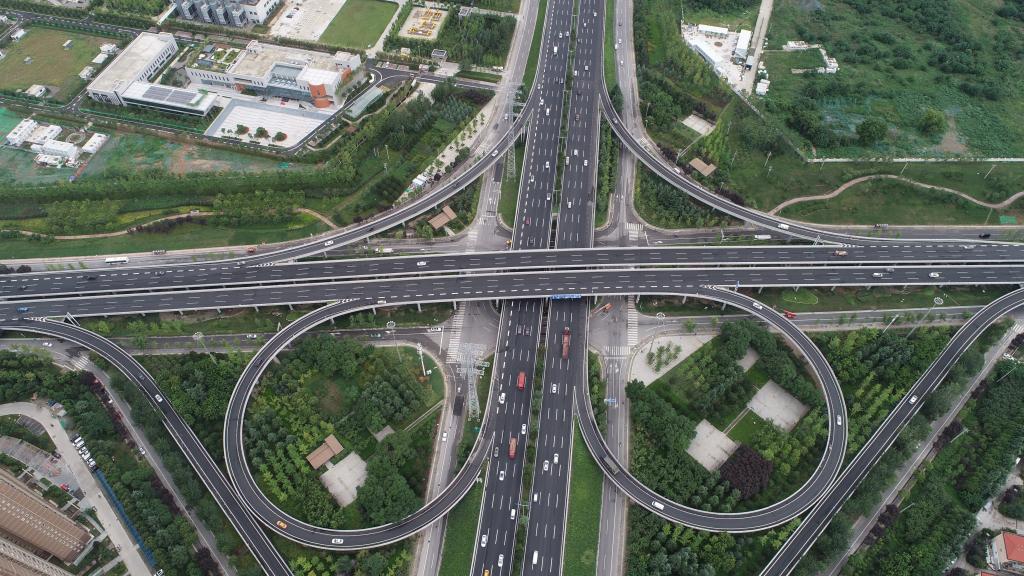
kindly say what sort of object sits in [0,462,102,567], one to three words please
building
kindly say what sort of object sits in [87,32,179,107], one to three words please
building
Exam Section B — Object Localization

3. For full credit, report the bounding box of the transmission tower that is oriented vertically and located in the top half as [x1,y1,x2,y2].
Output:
[499,82,524,181]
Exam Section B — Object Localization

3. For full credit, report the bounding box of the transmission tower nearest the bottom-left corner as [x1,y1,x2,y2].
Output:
[451,335,485,420]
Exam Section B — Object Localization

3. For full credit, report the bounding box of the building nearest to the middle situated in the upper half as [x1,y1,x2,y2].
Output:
[429,206,454,233]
